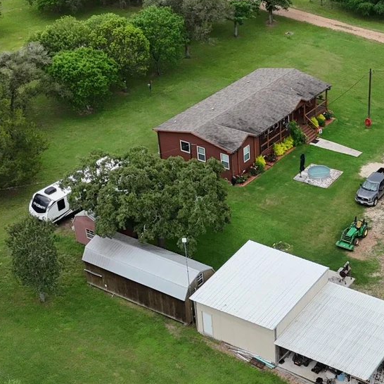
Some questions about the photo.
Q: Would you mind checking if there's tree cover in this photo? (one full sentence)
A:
Yes, the picture does contain tree cover.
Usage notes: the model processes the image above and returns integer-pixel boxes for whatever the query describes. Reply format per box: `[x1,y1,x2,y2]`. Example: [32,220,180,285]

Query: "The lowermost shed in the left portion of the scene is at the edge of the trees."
[79,233,216,323]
